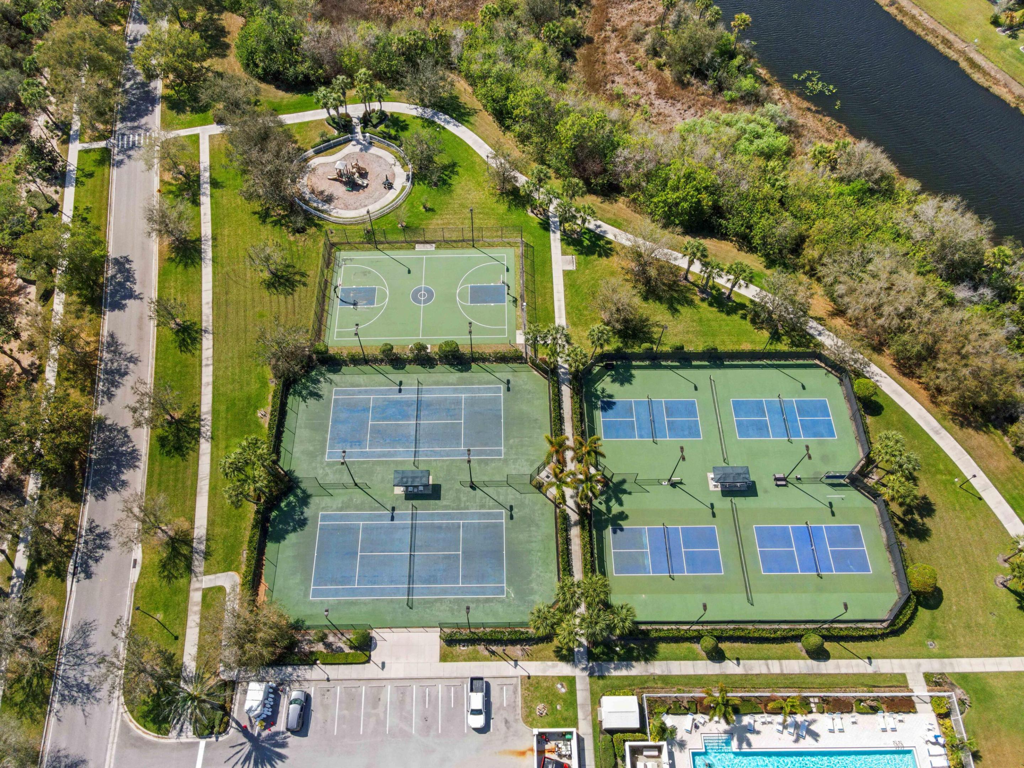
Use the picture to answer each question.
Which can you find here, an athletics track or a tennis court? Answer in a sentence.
Visible in the photo is a tennis court.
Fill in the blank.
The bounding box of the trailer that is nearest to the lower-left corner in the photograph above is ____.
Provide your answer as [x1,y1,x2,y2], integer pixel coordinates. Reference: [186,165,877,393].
[242,682,269,727]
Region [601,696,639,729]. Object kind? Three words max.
shed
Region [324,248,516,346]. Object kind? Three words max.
basketball court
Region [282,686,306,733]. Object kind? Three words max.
car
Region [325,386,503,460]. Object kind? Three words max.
tennis court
